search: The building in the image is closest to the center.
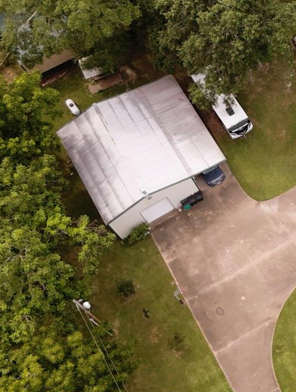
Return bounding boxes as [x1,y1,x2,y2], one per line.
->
[55,75,233,238]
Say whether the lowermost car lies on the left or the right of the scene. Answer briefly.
right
